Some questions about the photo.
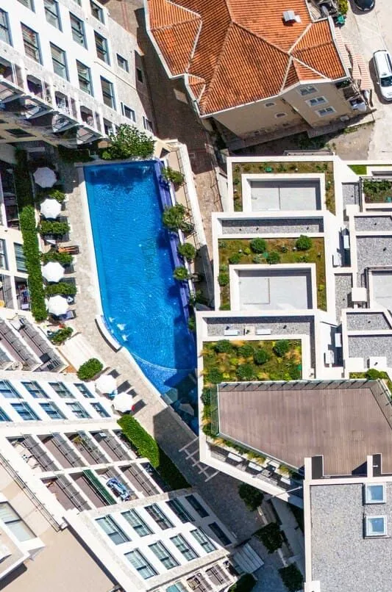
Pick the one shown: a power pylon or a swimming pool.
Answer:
swimming pool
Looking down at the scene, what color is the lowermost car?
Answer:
white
